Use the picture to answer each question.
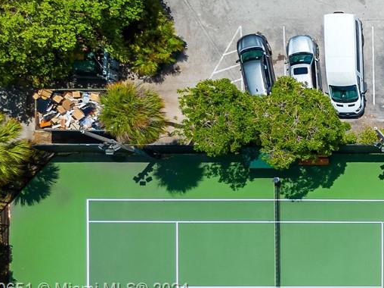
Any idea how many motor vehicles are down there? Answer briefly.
3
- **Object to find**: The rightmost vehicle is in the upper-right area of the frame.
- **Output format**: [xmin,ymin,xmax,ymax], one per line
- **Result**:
[320,8,366,117]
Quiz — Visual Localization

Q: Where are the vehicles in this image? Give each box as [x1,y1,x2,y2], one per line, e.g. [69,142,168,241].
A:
[235,28,280,104]
[320,8,366,117]
[282,31,321,108]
